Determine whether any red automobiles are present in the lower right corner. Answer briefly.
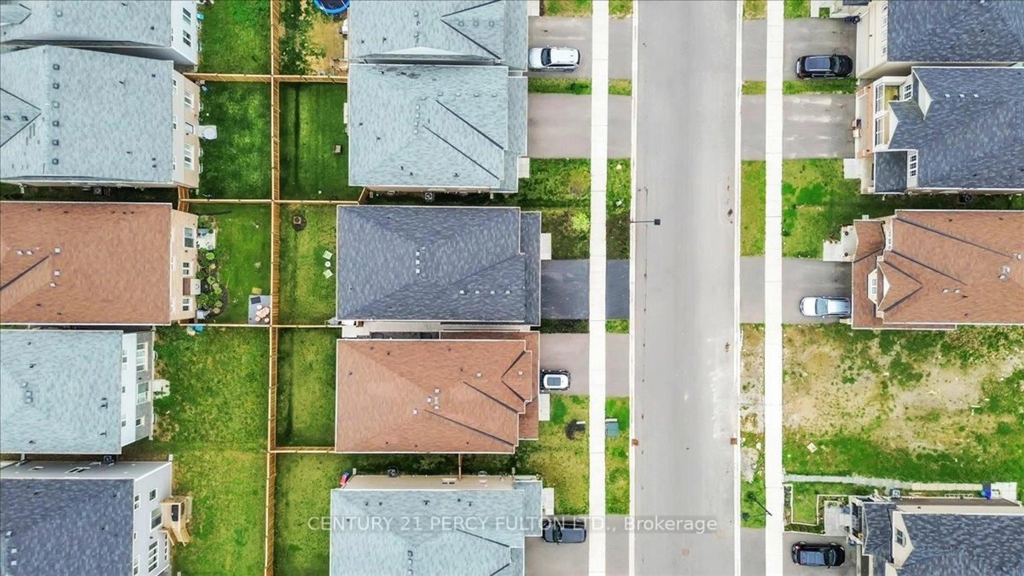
No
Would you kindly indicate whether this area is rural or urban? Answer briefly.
urban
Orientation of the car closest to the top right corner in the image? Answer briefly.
horizontally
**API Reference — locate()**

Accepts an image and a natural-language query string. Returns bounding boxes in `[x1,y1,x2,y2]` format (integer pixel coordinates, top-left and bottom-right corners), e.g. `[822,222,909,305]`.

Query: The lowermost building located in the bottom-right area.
[848,494,1024,576]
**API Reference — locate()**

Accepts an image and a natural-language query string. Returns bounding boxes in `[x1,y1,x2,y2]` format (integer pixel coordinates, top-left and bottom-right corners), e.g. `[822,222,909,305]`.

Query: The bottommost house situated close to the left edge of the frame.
[0,463,184,576]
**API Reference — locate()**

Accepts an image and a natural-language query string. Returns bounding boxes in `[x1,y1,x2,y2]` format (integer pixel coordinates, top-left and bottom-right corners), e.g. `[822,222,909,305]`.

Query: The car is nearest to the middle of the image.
[540,369,570,392]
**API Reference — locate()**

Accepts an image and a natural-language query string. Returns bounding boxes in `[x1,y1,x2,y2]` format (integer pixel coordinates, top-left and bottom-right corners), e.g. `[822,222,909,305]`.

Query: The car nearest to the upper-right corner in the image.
[797,52,852,79]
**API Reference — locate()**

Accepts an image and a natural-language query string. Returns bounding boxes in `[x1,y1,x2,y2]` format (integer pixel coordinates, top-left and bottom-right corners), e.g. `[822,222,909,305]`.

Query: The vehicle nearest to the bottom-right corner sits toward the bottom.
[791,542,846,569]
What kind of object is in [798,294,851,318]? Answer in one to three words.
car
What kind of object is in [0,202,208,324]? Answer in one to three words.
house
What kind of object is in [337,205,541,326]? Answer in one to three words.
house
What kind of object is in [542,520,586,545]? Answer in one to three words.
car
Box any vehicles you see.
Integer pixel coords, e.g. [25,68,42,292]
[529,45,581,72]
[798,294,851,318]
[540,369,570,392]
[797,52,852,79]
[542,520,586,545]
[791,542,846,569]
